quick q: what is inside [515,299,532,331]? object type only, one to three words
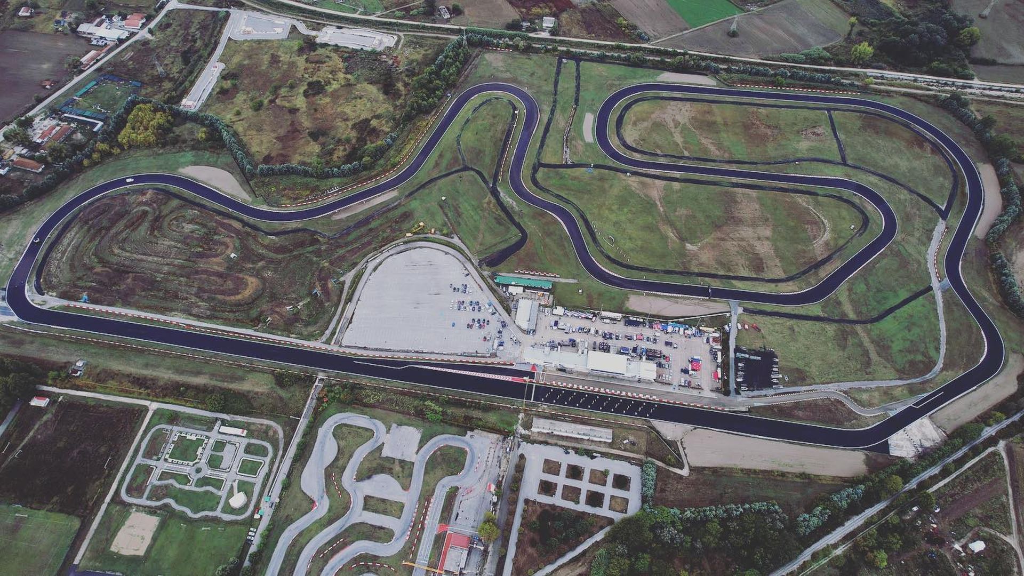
building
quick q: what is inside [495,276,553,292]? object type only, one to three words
shed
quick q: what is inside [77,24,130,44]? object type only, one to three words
building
